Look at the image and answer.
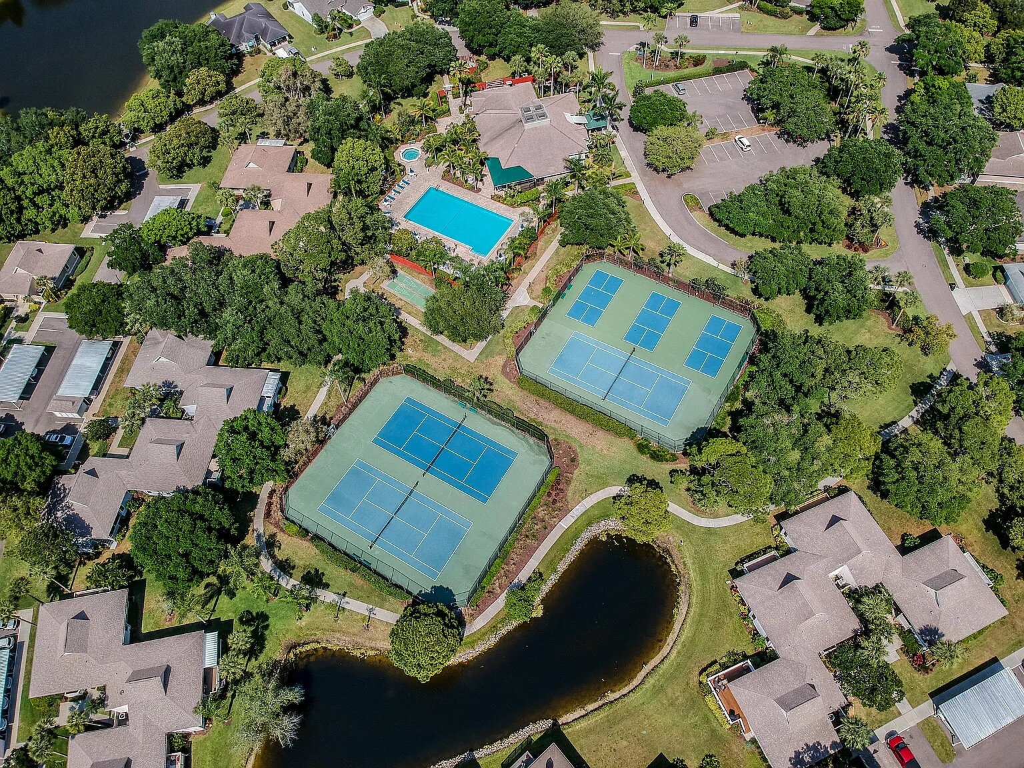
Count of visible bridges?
0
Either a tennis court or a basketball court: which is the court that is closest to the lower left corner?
tennis court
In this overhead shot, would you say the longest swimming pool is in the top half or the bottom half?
top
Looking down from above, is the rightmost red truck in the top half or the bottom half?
bottom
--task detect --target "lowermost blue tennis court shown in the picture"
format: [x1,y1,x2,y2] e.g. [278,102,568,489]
[317,458,473,581]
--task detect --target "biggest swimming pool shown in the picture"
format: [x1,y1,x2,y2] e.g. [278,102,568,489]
[402,184,517,258]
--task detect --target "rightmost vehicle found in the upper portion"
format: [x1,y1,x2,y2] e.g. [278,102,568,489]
[735,136,750,151]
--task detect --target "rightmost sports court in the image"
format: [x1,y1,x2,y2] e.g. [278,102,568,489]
[684,314,743,378]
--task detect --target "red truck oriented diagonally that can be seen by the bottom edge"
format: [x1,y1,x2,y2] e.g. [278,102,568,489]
[886,730,923,768]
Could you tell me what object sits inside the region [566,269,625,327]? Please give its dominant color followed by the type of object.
blue sports court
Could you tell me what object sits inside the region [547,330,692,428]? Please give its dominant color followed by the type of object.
blue tennis court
